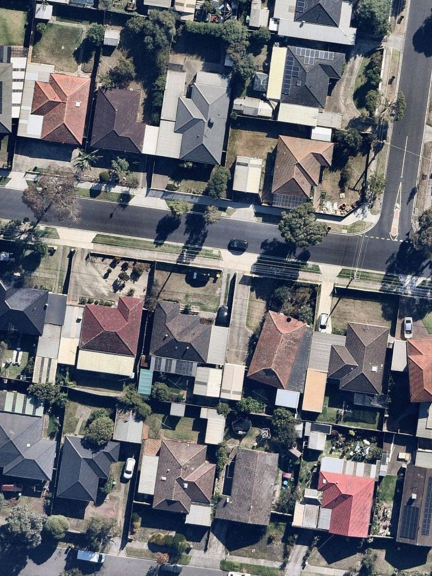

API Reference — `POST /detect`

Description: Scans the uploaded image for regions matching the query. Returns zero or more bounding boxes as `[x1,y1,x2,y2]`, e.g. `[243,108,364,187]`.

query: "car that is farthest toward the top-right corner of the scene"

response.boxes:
[227,237,251,249]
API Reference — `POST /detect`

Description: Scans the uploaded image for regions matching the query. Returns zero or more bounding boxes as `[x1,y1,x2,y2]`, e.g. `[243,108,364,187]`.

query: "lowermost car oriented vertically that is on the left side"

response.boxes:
[123,457,136,481]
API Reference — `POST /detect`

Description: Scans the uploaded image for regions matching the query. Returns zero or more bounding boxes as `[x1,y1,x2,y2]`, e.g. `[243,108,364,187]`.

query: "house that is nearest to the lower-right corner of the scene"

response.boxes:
[397,466,432,546]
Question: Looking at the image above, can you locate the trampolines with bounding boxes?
[232,417,252,437]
